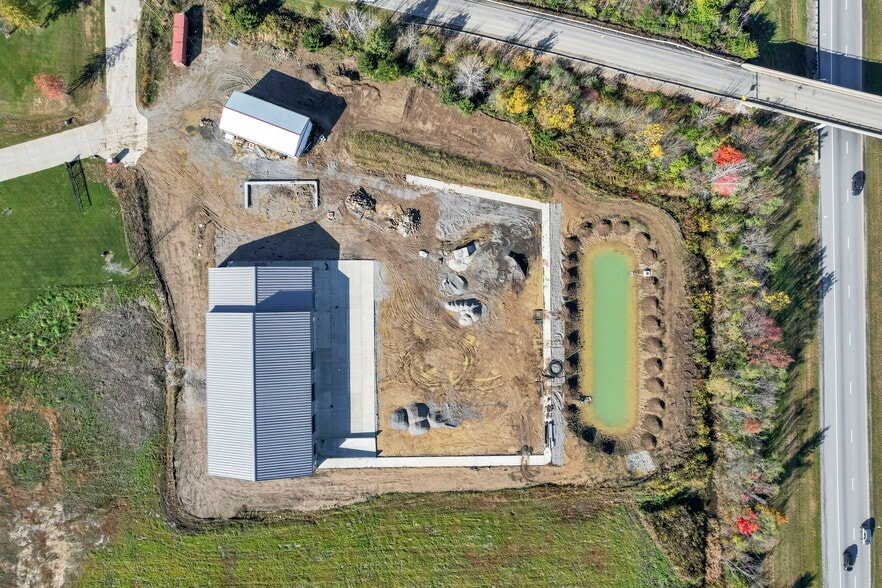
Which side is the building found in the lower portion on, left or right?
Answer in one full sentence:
The building found in the lower portion appears in the left half of the scene.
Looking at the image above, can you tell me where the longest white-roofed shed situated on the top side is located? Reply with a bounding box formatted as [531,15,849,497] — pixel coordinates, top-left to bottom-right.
[220,91,312,159]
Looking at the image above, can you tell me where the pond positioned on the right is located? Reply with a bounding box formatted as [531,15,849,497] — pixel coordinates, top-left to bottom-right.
[578,241,641,441]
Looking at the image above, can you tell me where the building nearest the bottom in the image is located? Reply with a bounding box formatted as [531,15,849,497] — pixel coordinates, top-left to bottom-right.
[207,266,319,482]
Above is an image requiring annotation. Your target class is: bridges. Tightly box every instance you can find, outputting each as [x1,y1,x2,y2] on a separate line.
[743,60,882,141]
